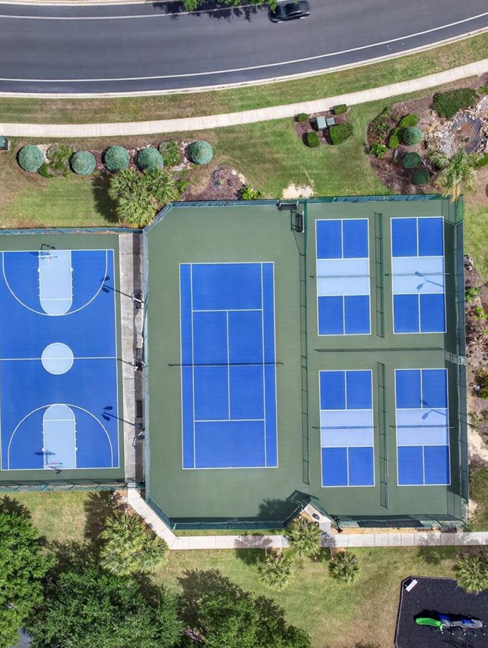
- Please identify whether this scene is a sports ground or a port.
sports ground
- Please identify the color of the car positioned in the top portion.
black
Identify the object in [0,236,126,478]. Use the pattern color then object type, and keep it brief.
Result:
blue basketball court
